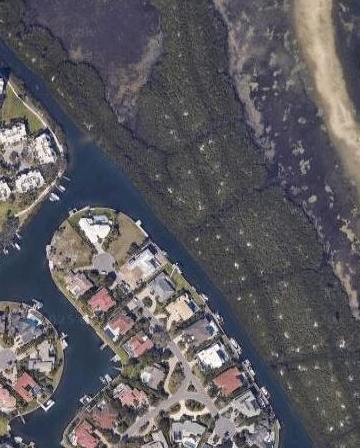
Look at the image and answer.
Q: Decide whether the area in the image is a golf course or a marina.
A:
marina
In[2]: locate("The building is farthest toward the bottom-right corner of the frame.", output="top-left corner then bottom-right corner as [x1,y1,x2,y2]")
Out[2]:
[246,418,272,448]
